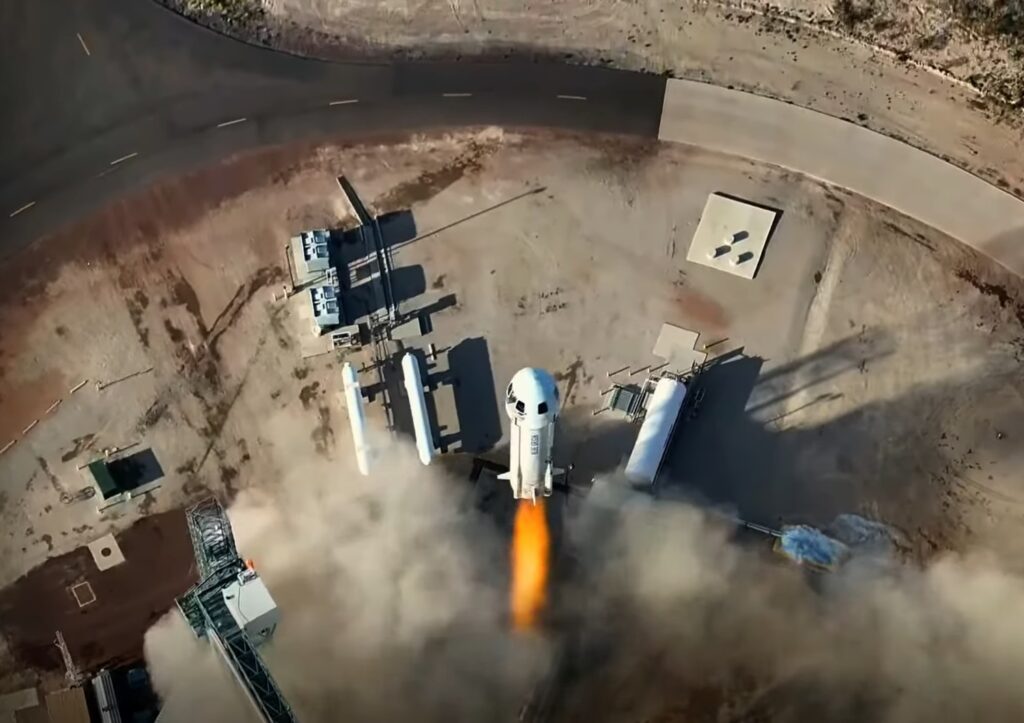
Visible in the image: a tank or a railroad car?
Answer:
tank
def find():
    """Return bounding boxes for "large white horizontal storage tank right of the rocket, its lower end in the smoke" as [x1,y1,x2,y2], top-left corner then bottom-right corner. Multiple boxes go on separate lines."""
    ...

[625,365,696,495]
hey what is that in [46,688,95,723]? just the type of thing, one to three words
shed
